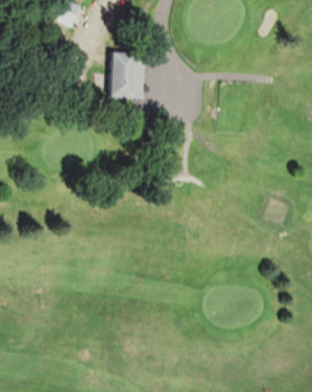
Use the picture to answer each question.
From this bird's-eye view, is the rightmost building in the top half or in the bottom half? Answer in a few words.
top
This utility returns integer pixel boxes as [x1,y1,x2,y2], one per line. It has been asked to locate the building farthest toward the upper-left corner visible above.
[59,2,81,30]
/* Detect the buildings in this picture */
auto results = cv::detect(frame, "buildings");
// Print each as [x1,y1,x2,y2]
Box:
[59,2,81,30]
[111,52,144,100]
